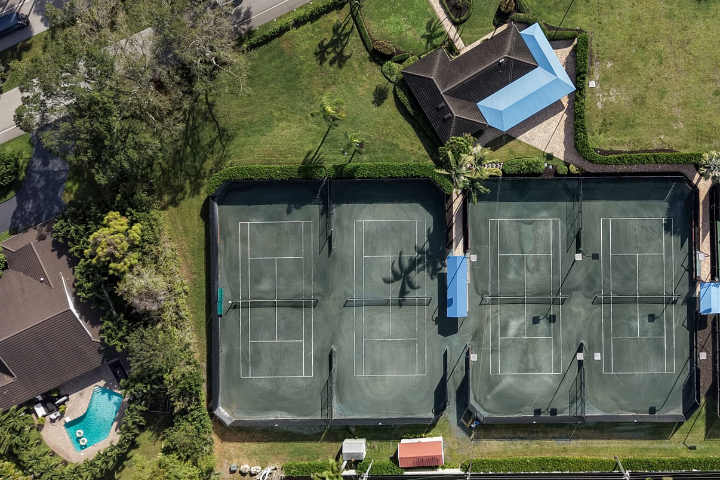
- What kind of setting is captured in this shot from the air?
sports ground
